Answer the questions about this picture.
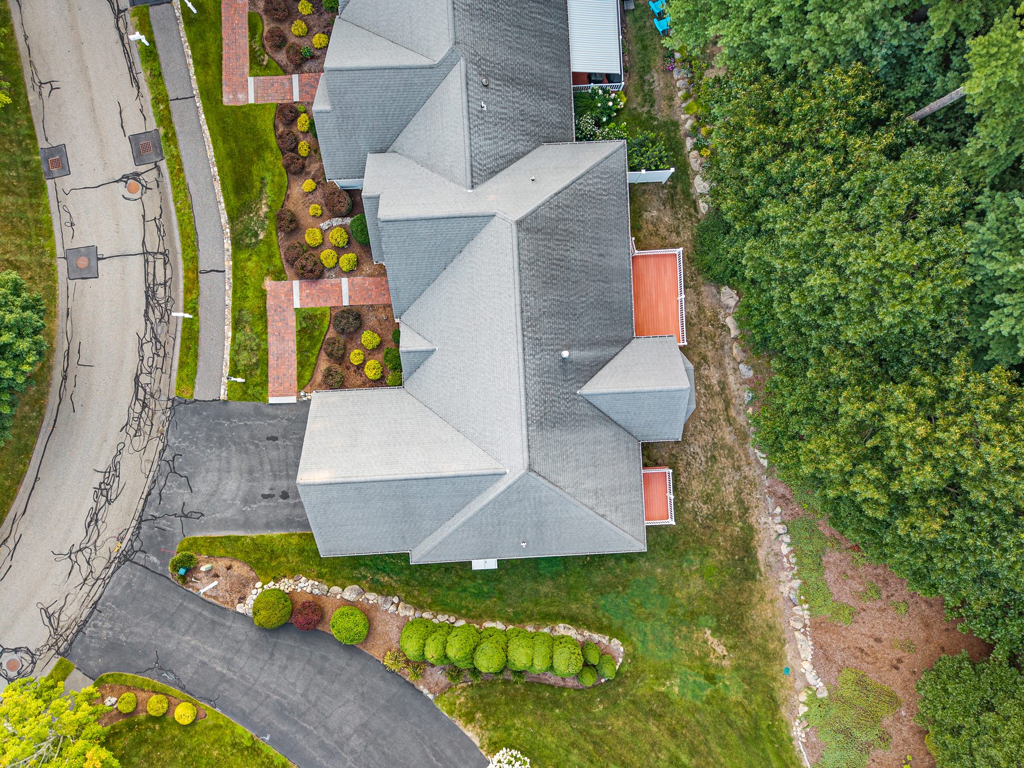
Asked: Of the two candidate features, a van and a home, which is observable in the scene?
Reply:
home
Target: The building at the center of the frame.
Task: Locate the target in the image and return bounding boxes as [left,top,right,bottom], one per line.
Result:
[297,139,696,567]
